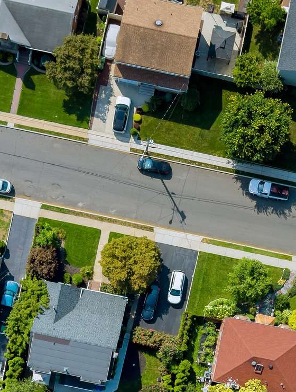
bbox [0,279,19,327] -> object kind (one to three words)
vehicle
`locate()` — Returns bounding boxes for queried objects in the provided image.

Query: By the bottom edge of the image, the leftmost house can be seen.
[28,278,129,392]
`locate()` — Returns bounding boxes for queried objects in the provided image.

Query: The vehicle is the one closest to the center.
[137,156,172,177]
